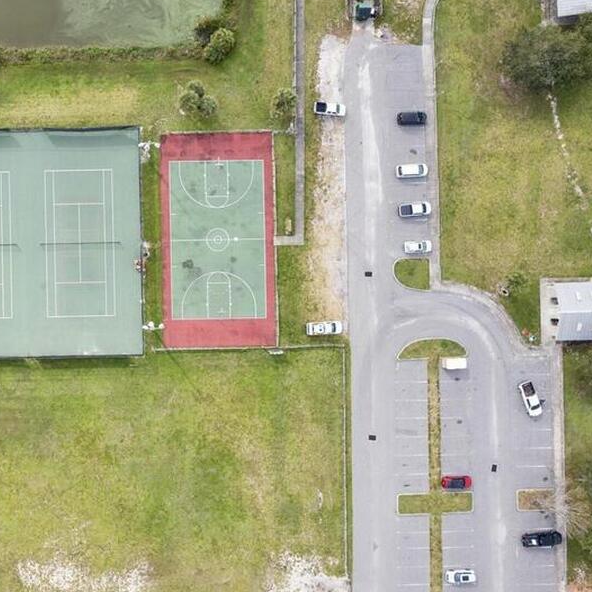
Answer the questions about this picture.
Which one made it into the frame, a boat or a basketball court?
basketball court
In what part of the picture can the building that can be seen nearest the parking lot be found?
right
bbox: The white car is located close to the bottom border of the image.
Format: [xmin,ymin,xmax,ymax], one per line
[445,569,475,584]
